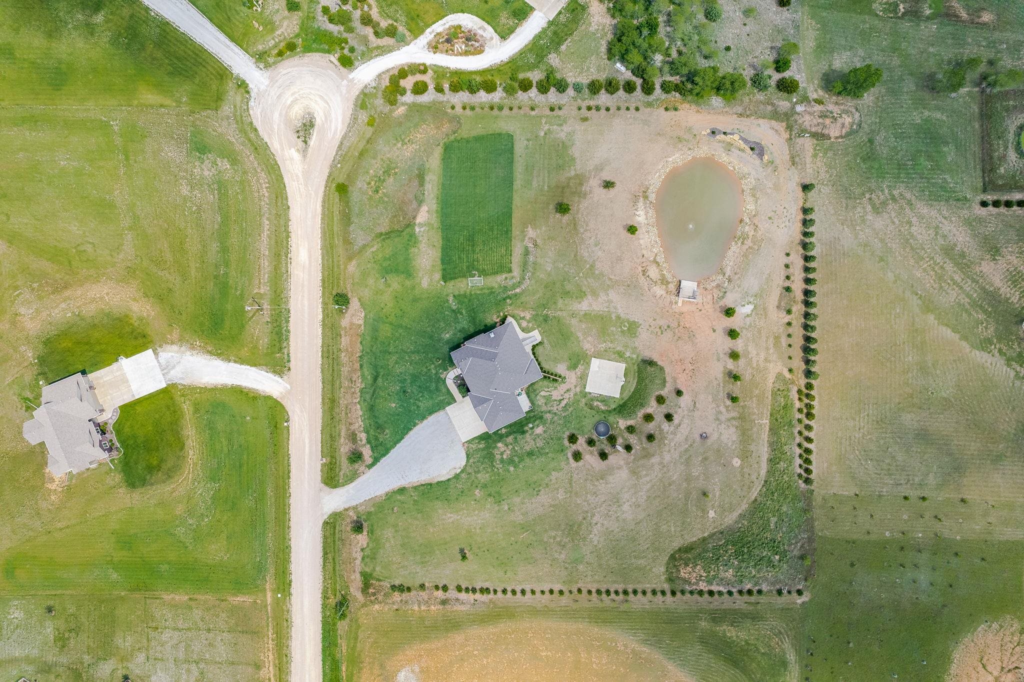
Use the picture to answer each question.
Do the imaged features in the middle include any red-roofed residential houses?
No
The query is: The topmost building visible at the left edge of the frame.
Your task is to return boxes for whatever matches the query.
[18,372,116,481]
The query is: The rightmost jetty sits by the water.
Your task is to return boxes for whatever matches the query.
[678,280,701,301]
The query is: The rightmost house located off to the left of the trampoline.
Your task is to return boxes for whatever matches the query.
[450,320,545,435]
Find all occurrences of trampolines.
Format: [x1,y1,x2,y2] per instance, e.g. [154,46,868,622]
[594,421,612,439]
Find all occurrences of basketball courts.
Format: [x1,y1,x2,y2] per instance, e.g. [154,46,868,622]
[586,358,626,397]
